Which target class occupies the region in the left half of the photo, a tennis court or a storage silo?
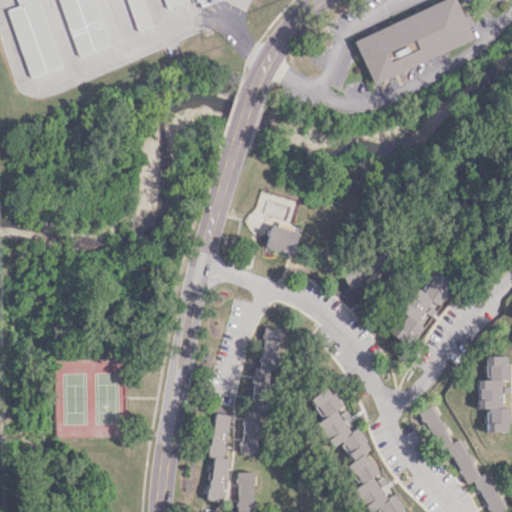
tennis court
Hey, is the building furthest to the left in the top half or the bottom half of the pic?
top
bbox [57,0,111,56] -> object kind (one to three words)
building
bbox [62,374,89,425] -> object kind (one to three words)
tennis court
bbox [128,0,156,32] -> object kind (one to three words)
building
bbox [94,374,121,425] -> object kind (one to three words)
tennis court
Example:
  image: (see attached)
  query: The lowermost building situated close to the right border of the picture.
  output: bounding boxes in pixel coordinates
[422,408,509,512]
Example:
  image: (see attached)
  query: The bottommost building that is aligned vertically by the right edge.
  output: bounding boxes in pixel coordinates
[477,356,512,434]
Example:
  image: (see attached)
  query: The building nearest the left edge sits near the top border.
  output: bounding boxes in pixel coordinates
[8,0,64,77]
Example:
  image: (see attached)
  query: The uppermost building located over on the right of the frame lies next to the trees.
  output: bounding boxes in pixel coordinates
[356,0,478,88]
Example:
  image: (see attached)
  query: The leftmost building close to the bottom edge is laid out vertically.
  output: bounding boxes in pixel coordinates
[204,414,232,501]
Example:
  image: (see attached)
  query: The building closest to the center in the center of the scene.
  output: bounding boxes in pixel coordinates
[268,224,302,256]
